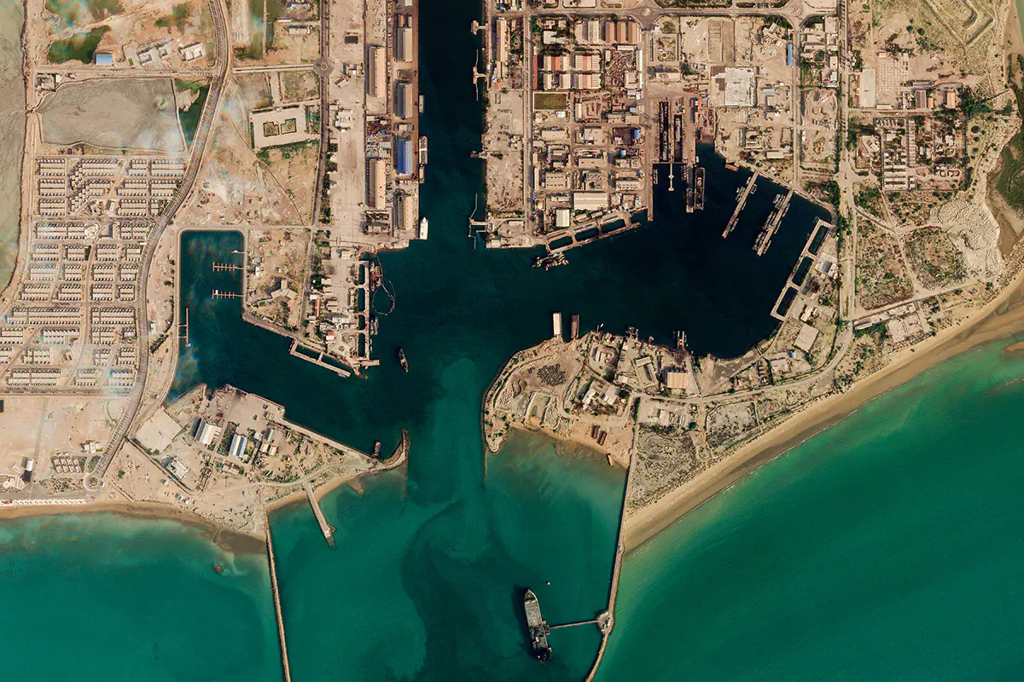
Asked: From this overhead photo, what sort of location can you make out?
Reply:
port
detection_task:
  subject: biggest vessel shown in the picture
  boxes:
[526,590,549,662]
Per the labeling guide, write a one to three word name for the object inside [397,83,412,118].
shed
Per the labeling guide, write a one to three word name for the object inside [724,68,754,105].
building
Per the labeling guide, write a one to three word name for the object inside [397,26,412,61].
shed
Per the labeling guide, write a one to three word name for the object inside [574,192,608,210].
building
